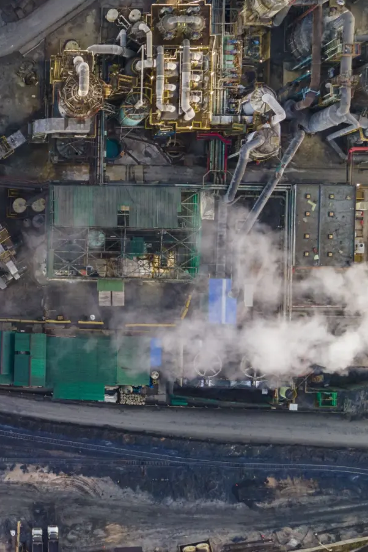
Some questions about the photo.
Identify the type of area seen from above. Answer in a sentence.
The picture captures an industrial area.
